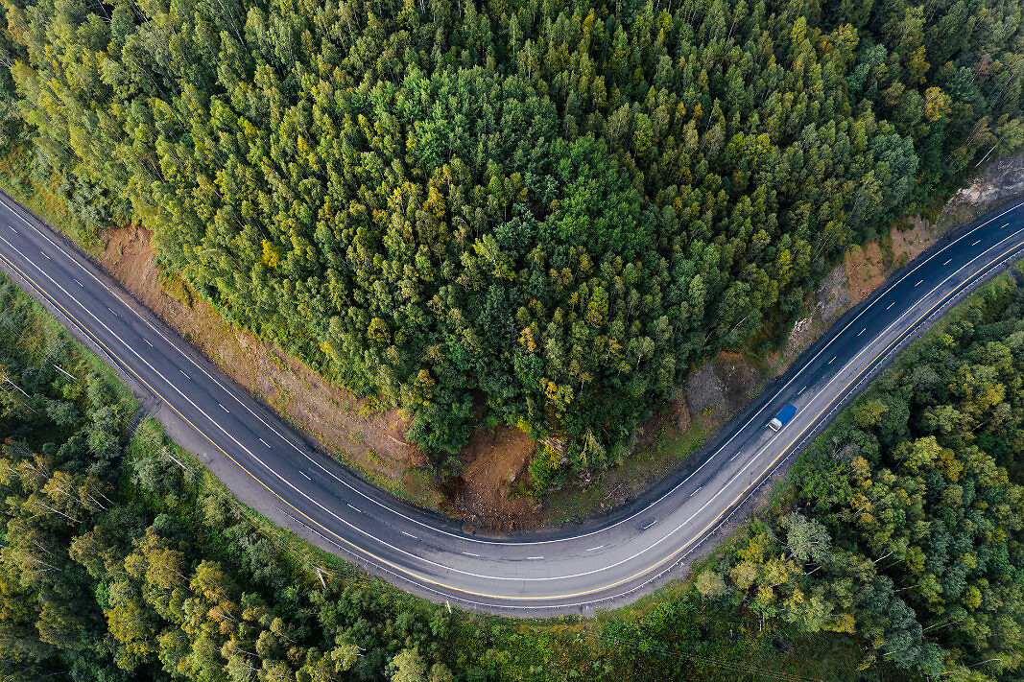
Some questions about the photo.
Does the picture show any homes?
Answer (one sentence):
No, there appears to be no home in this shot.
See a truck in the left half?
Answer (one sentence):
No, no truck can be made out in the left half.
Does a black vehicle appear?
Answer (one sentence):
No, the photo shows no black vehicle.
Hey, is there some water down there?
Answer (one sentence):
No, there's no water in this view.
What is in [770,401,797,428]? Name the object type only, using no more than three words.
truck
